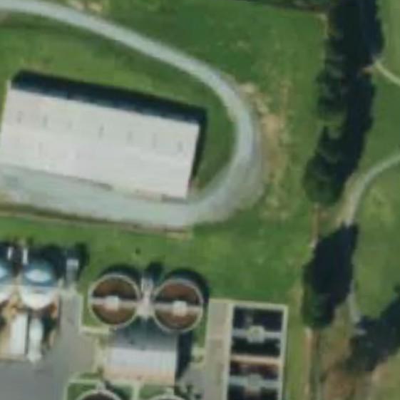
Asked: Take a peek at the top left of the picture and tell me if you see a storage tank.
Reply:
No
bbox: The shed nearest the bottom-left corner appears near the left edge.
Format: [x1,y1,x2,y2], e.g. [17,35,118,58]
[11,314,28,358]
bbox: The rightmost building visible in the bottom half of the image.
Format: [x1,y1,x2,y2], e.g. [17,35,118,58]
[106,328,178,380]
